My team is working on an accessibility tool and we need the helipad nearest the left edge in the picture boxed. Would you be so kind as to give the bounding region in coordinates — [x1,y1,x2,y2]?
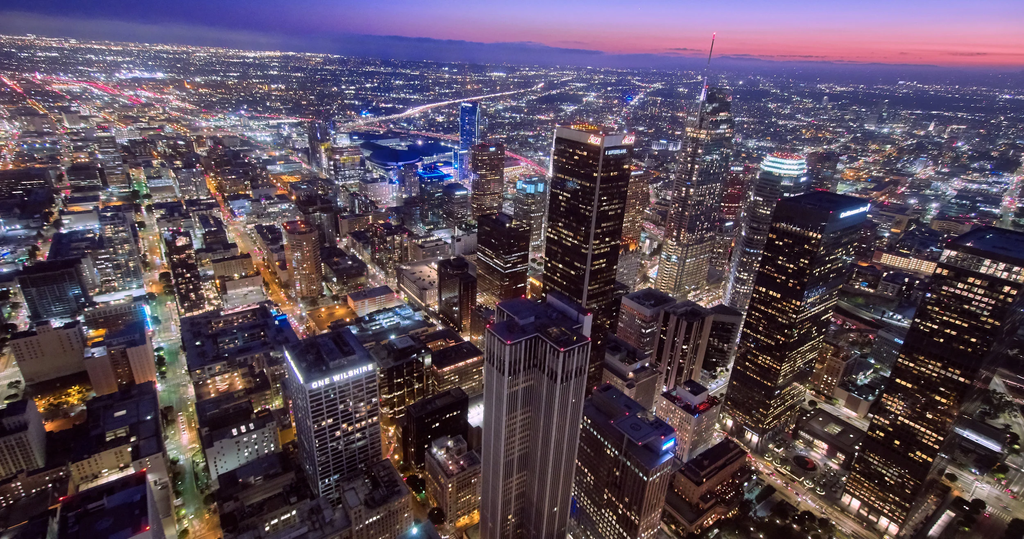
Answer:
[390,338,411,356]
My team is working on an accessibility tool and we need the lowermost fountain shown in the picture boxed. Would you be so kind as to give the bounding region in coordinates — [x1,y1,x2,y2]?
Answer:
[791,454,819,475]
